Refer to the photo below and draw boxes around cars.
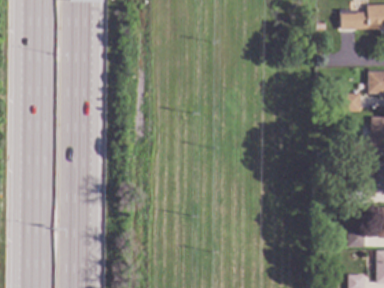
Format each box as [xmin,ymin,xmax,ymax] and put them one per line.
[32,104,38,116]
[84,102,91,116]
[68,147,74,162]
[23,38,28,46]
